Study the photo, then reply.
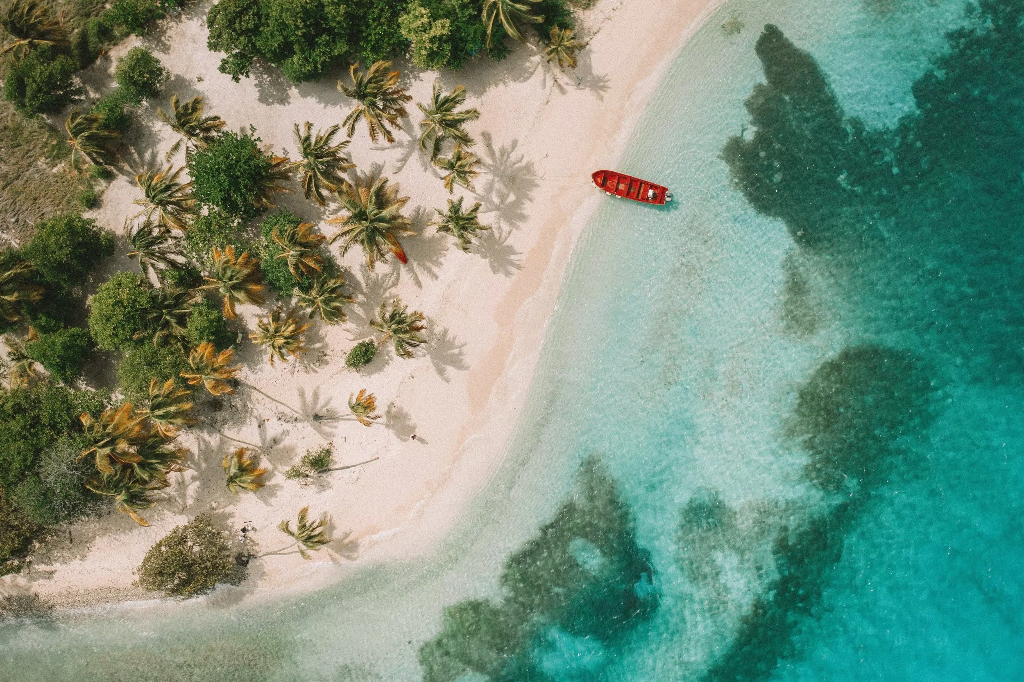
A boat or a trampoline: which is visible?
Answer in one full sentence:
This aerial view contains a boat.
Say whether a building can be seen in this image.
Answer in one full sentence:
No, there is no building in the image.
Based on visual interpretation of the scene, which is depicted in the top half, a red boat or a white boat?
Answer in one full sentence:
Looking in the top half, you will find a red boat.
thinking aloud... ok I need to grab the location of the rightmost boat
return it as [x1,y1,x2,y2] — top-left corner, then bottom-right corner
[591,171,675,203]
